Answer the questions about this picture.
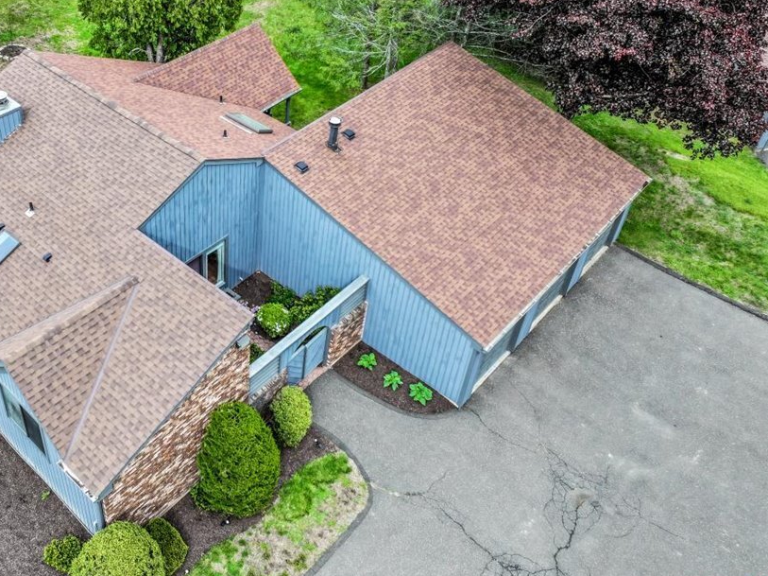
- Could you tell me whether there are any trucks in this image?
No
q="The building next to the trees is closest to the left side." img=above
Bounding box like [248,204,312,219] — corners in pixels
[0,21,307,536]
